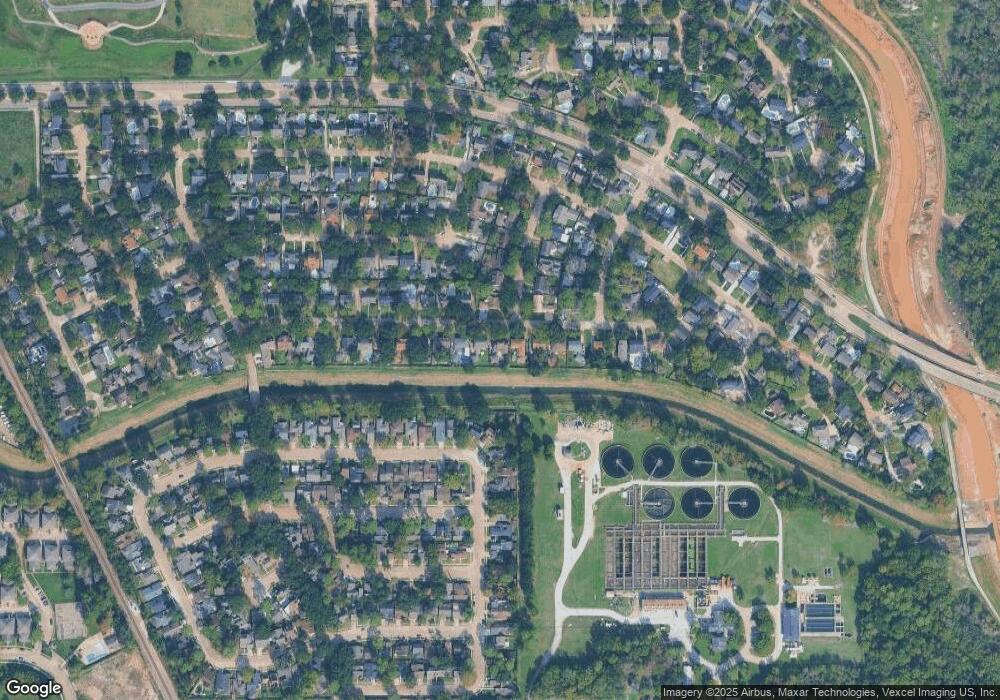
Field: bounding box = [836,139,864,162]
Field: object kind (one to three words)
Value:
house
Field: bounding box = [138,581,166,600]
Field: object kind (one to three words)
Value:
house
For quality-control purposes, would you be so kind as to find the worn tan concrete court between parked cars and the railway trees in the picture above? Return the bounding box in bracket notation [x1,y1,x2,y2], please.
[55,602,88,639]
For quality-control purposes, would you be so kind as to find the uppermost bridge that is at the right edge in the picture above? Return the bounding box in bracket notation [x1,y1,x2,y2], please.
[834,293,1000,387]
